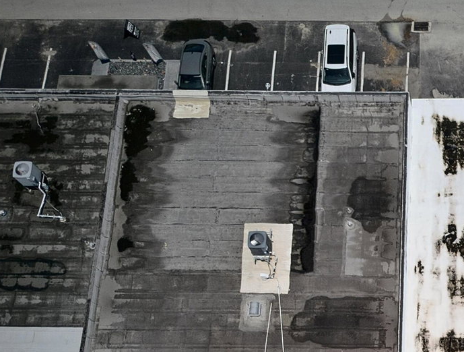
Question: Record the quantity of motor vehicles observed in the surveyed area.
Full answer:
I count 2 motor vehicles.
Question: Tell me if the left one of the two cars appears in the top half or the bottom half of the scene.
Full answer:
Seen from above, the left one of the two cars lies in the top half of the view.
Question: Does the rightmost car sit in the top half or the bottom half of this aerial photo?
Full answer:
The rightmost car sits in the top half of the picture.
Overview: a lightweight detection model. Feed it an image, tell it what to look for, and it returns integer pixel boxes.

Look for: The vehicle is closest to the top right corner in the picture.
[318,27,359,93]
